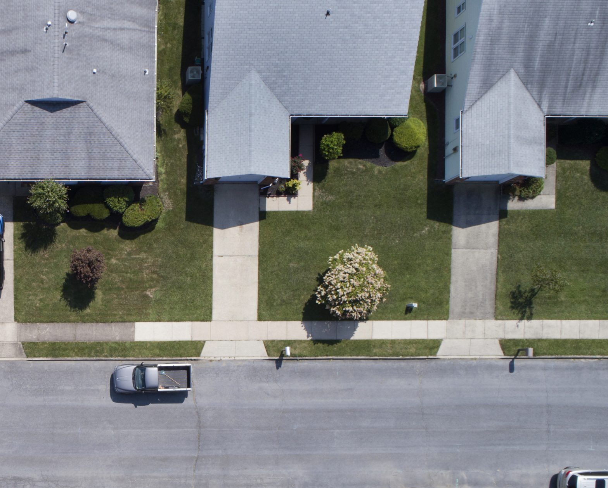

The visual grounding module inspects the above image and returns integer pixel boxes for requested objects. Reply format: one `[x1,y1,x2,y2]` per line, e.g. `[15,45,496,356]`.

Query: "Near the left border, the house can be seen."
[0,0,155,185]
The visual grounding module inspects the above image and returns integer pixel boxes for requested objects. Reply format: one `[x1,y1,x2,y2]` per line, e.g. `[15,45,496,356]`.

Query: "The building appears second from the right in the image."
[195,0,424,195]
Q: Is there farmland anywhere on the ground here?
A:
No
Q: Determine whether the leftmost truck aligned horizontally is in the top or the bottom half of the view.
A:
bottom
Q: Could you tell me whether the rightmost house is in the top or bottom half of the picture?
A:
top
